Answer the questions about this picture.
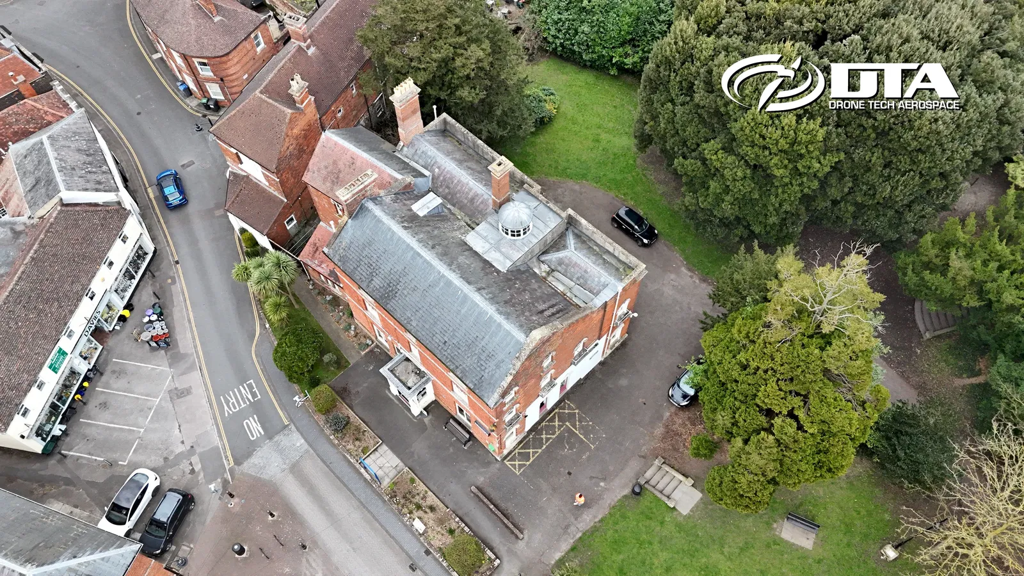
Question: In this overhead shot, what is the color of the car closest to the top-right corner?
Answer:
black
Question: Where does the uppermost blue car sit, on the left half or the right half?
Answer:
left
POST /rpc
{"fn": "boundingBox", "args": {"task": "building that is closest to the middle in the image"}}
[298,76,648,463]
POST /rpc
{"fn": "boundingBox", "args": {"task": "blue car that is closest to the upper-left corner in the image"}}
[154,171,188,213]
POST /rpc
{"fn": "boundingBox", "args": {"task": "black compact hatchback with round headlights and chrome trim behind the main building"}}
[608,205,656,245]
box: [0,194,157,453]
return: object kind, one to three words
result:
building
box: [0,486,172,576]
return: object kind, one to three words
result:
house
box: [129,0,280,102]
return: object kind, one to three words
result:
house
